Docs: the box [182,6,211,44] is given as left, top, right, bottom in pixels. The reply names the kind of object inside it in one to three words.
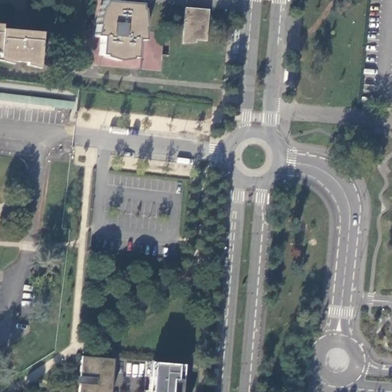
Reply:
house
